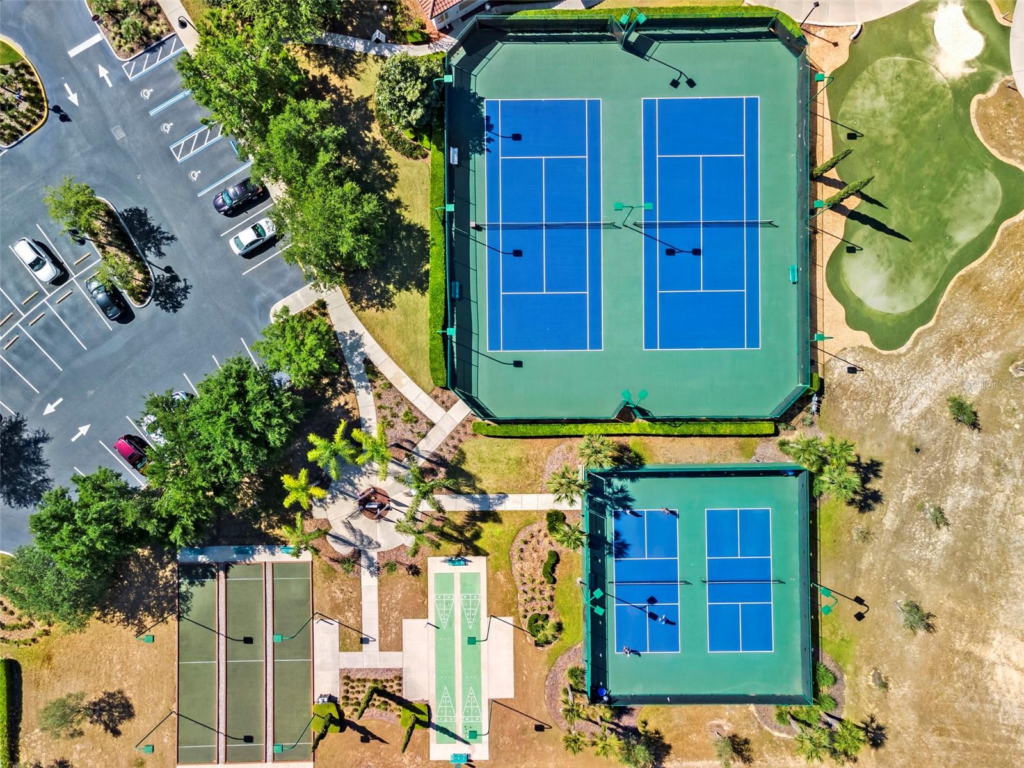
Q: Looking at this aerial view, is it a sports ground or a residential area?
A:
sports ground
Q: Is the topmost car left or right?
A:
left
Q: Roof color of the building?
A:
red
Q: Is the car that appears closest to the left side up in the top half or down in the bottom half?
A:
top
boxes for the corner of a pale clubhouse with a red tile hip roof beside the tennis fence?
[418,0,492,30]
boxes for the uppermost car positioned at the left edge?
[8,235,55,283]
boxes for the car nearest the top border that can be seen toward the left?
[211,174,262,212]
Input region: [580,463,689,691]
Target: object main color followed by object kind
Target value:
blue sports court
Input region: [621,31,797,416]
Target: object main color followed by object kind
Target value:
green tennis court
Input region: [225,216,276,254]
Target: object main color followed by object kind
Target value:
white car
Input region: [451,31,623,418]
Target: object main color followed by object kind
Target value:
blue tennis court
